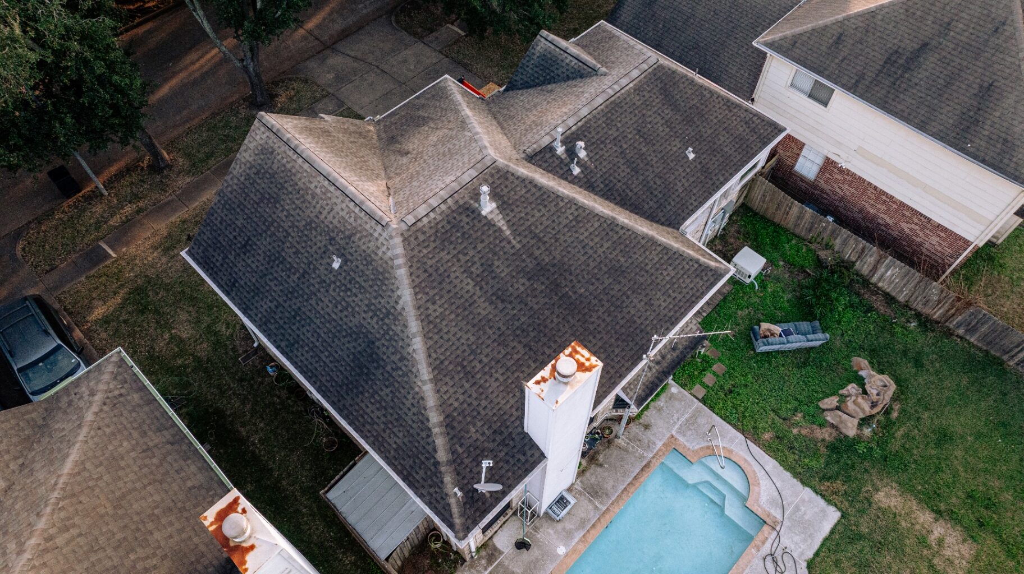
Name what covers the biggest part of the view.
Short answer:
buildings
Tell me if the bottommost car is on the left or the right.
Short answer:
left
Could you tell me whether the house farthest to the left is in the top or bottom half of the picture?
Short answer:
bottom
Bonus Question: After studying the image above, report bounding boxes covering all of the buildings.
[0,349,323,574]
[181,20,791,564]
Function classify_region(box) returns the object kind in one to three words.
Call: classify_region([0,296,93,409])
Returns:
car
